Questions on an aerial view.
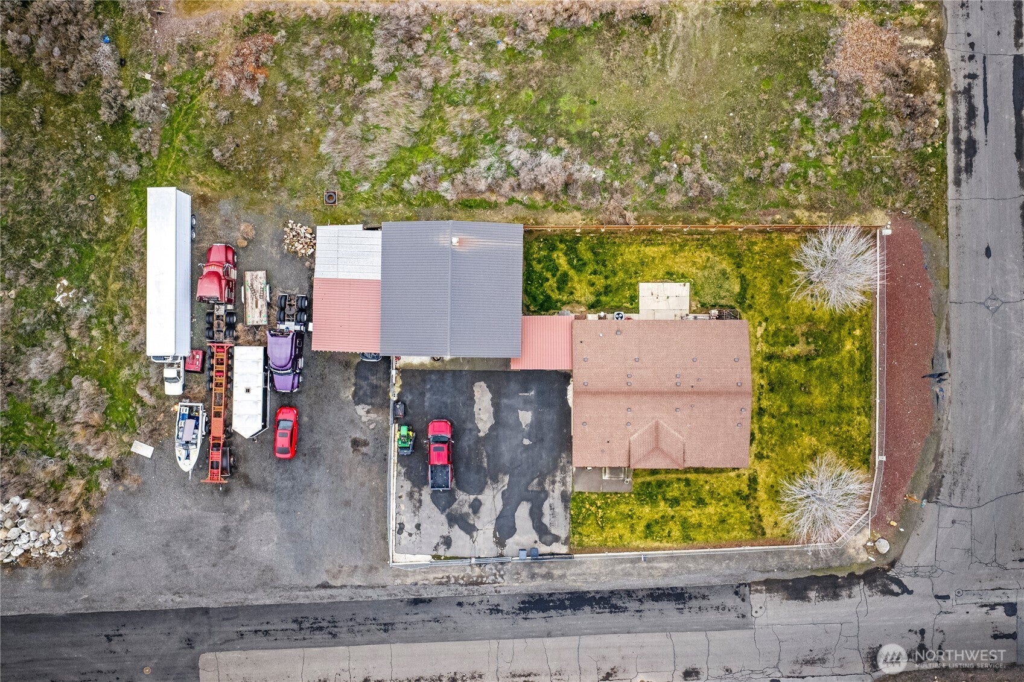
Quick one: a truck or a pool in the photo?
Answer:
truck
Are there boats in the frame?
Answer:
Yes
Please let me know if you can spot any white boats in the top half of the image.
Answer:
No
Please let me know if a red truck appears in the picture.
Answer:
Yes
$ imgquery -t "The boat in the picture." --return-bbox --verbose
[175,396,203,472]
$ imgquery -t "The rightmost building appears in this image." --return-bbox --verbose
[571,319,753,470]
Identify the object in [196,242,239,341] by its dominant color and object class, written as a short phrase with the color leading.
red truck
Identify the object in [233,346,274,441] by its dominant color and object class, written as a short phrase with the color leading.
white trailer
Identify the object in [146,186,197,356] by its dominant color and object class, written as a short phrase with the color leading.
white trailer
